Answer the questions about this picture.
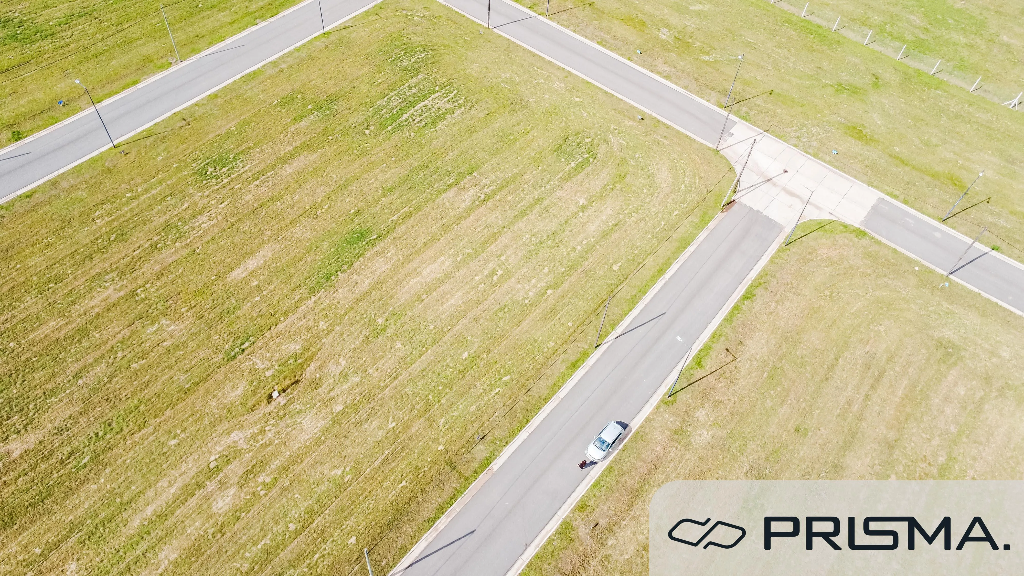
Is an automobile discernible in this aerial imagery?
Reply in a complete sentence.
Yes, I can see an automobile in this picture.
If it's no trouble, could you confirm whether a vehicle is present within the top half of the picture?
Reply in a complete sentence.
No, no vehicle is visible within the top half of the picture.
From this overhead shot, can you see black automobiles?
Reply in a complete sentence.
No, the photo shows no black automobile.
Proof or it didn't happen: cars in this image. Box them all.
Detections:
[585,422,624,465]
